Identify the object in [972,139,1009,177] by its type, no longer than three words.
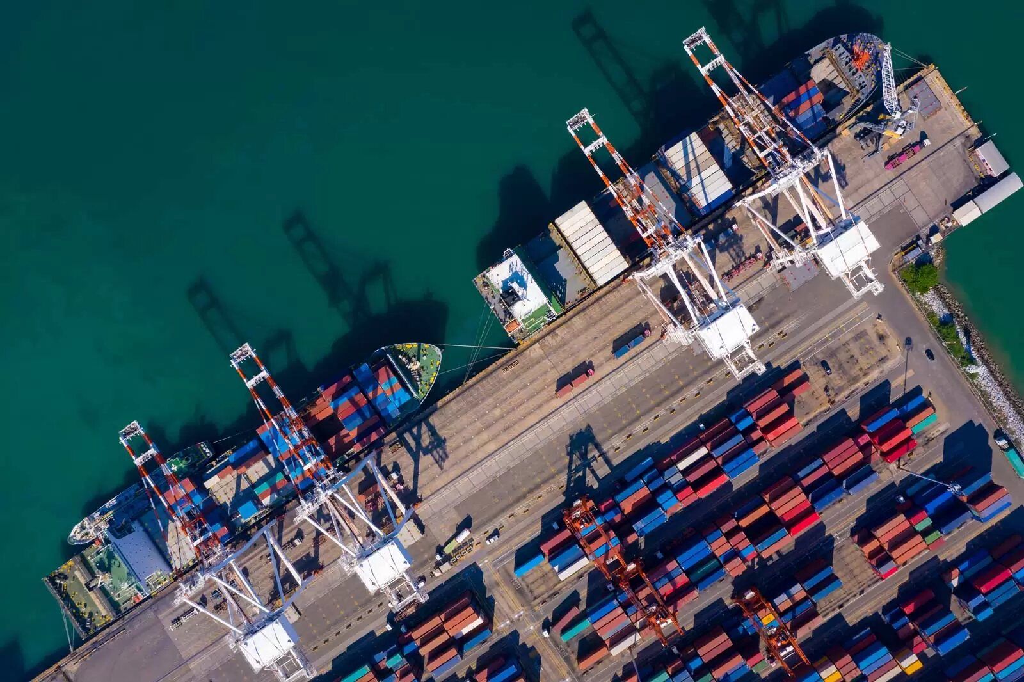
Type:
shed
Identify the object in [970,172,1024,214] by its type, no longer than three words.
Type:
shed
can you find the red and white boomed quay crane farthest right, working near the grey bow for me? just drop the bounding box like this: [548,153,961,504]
[684,25,891,297]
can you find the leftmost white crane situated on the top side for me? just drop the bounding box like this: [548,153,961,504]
[566,106,772,378]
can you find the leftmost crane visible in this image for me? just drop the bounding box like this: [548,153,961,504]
[119,420,320,682]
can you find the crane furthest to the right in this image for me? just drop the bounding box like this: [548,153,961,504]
[863,42,928,159]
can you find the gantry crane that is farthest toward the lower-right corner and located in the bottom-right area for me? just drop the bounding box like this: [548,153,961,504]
[730,582,815,680]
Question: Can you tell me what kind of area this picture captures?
port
